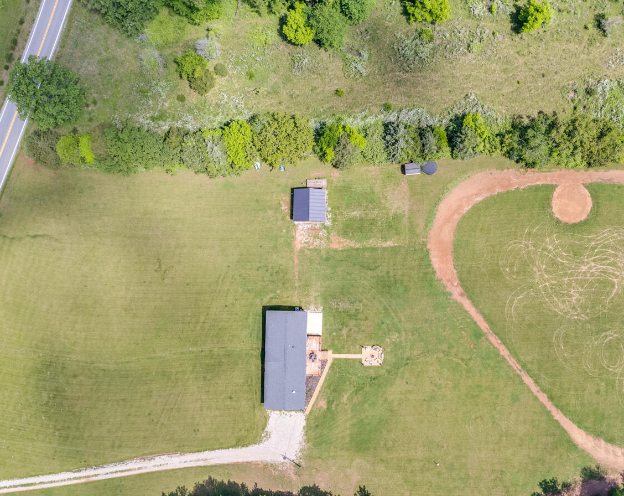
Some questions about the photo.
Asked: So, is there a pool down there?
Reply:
No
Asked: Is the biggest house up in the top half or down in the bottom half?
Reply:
bottom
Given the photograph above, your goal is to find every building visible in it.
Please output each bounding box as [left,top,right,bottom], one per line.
[293,188,326,223]
[263,310,308,412]
[405,163,420,176]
